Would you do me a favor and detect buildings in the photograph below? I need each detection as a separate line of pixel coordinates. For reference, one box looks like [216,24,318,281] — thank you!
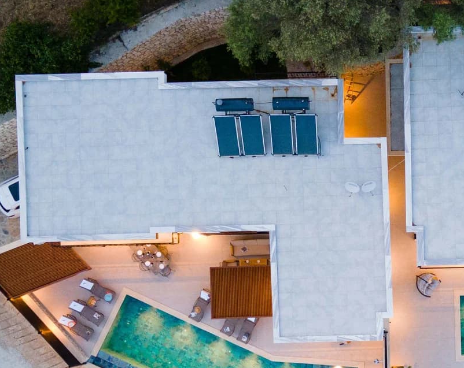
[402,25,464,268]
[16,71,394,343]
